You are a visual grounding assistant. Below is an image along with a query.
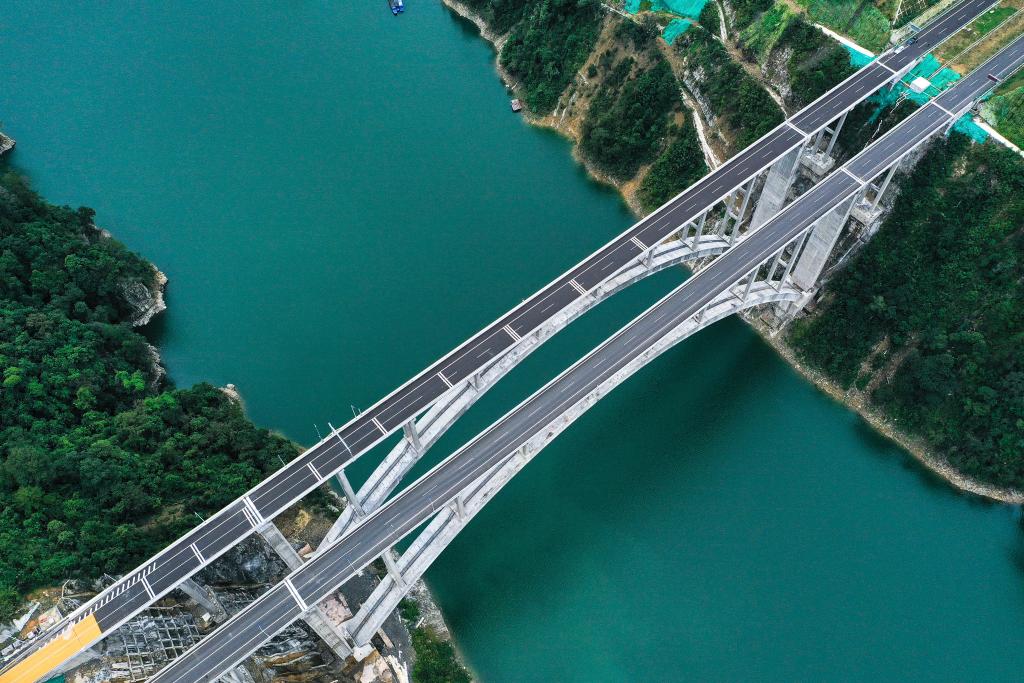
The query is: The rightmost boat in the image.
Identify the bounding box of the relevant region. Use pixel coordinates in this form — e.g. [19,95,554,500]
[506,97,520,110]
